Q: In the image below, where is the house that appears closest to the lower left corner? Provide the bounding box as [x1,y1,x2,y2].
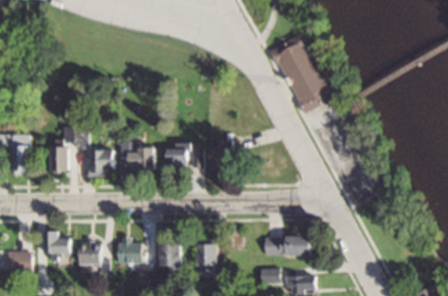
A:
[0,250,33,270]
